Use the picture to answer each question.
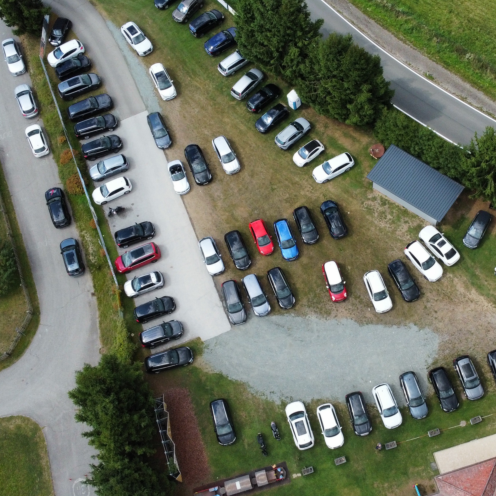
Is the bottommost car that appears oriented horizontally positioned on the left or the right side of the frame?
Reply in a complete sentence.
The bottommost car that appears oriented horizontally sits on the left side.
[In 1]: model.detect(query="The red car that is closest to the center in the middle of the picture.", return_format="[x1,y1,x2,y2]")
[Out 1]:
[249,218,274,256]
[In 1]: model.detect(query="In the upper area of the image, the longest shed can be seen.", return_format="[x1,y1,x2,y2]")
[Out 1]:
[366,143,465,225]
